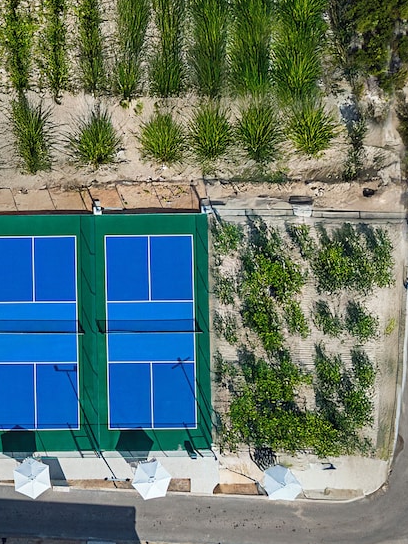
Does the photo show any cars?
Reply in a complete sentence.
No, the picture doesn't show any car.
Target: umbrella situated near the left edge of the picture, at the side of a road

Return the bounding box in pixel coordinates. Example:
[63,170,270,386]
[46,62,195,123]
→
[14,457,50,496]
